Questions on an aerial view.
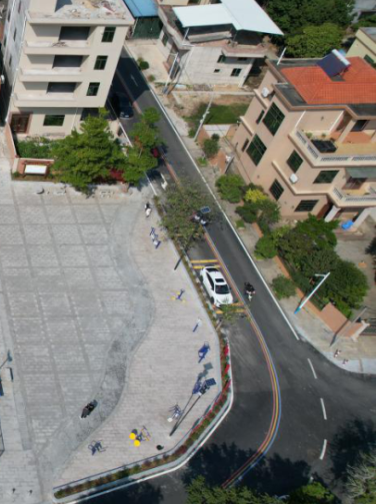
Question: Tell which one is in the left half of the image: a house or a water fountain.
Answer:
house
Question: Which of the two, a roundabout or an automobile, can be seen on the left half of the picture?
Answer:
automobile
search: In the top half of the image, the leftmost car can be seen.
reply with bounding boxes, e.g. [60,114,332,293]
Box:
[115,96,140,121]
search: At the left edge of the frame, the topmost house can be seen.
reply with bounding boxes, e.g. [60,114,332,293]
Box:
[0,0,137,135]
